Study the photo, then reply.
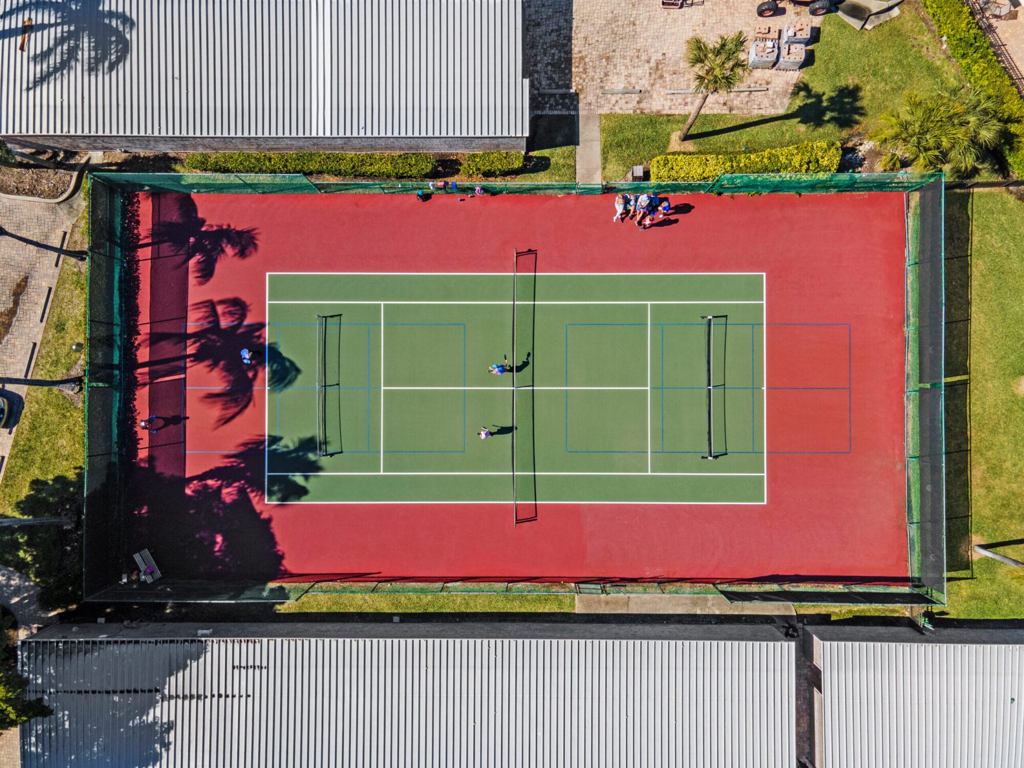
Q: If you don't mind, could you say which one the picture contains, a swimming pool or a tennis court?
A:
tennis court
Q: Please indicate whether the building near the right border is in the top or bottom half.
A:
bottom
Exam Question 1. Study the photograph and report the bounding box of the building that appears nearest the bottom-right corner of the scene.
[801,630,1024,768]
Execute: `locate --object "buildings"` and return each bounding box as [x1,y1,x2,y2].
[16,627,798,768]
[0,0,529,156]
[801,630,1024,768]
